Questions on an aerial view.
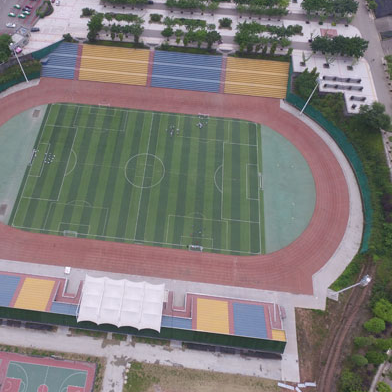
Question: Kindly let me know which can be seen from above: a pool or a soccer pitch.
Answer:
soccer pitch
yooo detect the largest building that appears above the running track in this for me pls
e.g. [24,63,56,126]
[12,28,32,55]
